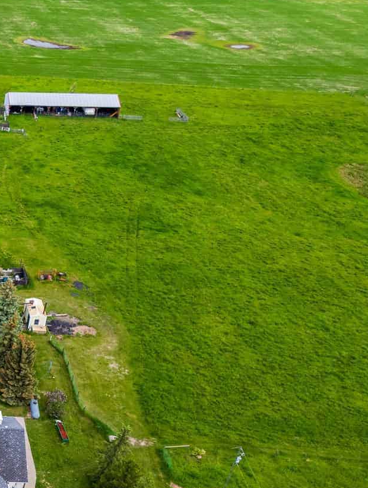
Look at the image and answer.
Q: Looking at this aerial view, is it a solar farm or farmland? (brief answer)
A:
farmland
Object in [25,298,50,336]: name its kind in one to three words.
shed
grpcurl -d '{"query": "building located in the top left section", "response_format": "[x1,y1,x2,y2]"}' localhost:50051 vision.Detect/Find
[6,93,123,119]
